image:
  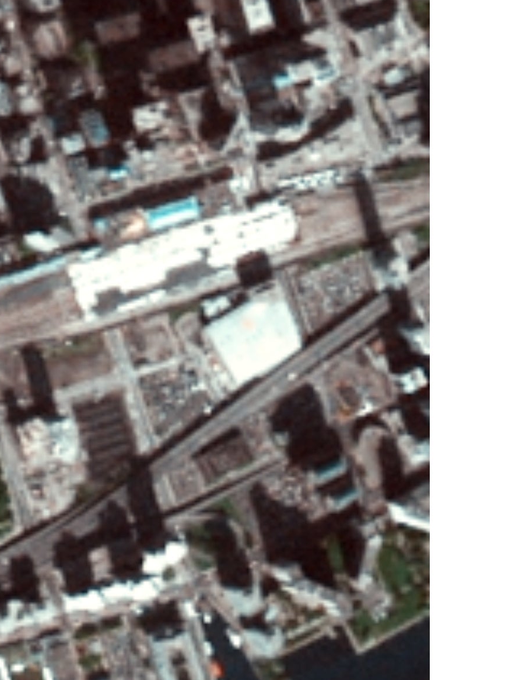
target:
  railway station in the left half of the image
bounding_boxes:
[0,186,297,319]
